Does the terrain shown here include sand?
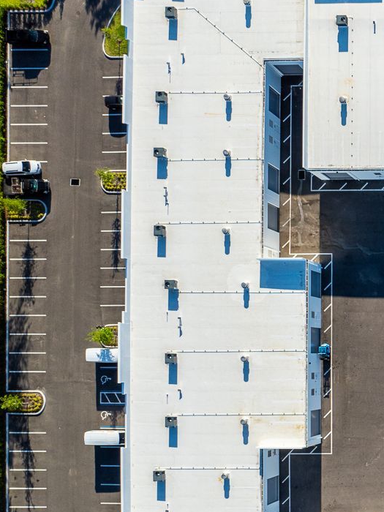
No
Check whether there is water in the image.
No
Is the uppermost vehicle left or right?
left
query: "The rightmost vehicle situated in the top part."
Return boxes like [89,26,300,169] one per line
[105,96,125,111]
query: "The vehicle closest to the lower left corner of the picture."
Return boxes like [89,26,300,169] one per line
[87,429,126,446]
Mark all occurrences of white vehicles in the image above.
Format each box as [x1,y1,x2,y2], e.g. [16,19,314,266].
[88,347,118,362]
[87,429,126,446]
[3,159,43,176]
